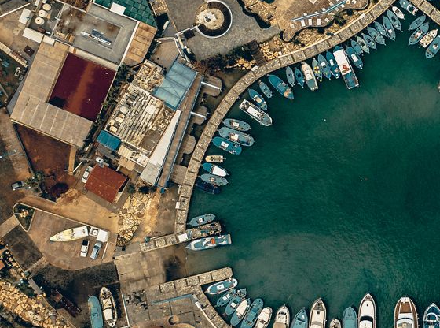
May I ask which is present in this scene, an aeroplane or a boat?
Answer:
boat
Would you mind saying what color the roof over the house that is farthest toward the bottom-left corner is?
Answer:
red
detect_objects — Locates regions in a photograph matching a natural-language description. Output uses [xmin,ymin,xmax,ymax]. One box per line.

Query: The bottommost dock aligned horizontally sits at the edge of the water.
[154,267,235,295]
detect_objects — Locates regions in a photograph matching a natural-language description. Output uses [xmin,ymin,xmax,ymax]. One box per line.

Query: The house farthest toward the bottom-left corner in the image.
[85,165,130,203]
